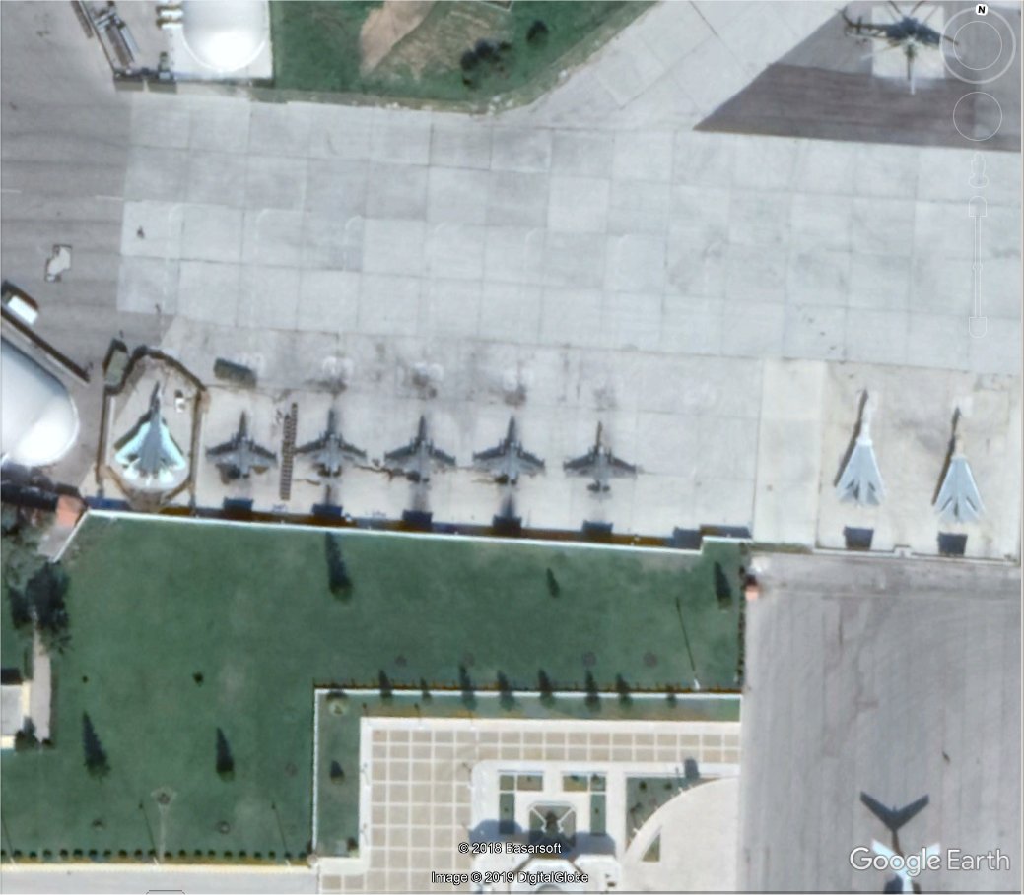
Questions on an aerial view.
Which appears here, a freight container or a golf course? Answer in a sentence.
It is a freight container that can be seen here.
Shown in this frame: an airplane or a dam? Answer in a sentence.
This aerial view contains an airplane.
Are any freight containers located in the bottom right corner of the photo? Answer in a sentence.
No, I see no freight container in the bottom right corner of the photo.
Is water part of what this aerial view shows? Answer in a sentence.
No, the picture contains no water.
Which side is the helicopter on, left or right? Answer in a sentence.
The helicopter is on the right side of the image.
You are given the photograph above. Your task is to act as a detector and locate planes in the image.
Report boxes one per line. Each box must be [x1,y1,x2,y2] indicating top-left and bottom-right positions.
[565,426,636,493]
[837,399,889,508]
[932,408,985,522]
[116,389,186,485]
[297,415,369,480]
[476,422,548,486]
[873,841,941,895]
[207,411,279,480]
[386,419,458,483]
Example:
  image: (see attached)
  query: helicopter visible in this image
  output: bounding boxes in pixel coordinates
[841,0,962,88]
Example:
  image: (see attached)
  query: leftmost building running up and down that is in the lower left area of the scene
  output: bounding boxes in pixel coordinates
[0,682,29,747]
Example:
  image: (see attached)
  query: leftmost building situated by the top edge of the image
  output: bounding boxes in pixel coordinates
[179,0,271,70]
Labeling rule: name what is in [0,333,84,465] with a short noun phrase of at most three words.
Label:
hangar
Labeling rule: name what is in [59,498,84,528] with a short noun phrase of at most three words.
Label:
shed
